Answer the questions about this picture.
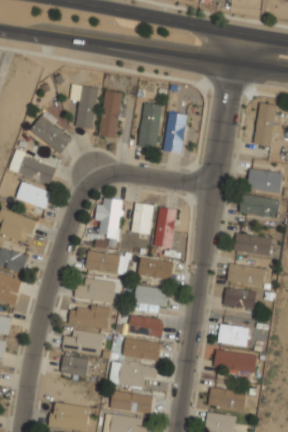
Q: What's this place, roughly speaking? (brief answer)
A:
residential area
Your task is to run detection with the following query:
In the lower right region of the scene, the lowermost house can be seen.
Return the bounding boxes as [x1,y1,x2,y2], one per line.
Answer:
[206,413,236,432]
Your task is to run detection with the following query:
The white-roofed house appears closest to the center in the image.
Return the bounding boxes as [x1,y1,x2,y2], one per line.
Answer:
[131,203,154,240]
